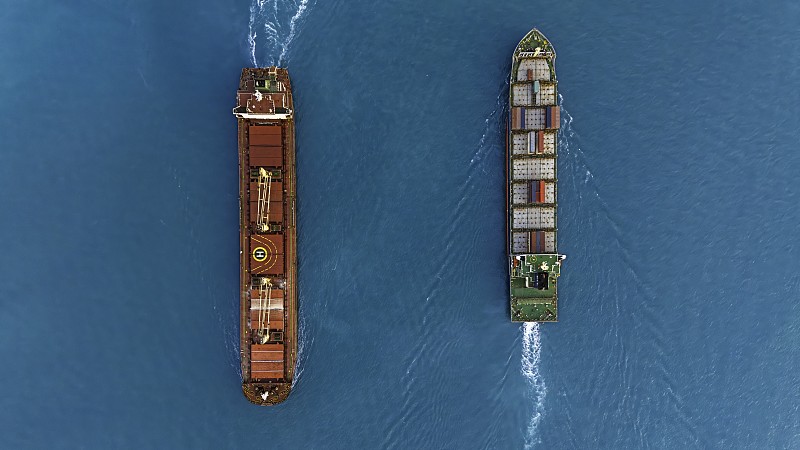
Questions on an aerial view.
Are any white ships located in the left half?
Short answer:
No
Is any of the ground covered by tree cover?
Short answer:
No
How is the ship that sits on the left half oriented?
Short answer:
up and down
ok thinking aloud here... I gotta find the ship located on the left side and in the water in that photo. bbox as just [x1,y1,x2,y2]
[231,66,297,408]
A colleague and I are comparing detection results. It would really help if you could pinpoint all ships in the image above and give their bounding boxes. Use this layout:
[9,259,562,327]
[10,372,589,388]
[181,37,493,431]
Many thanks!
[231,66,297,408]
[506,27,566,323]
